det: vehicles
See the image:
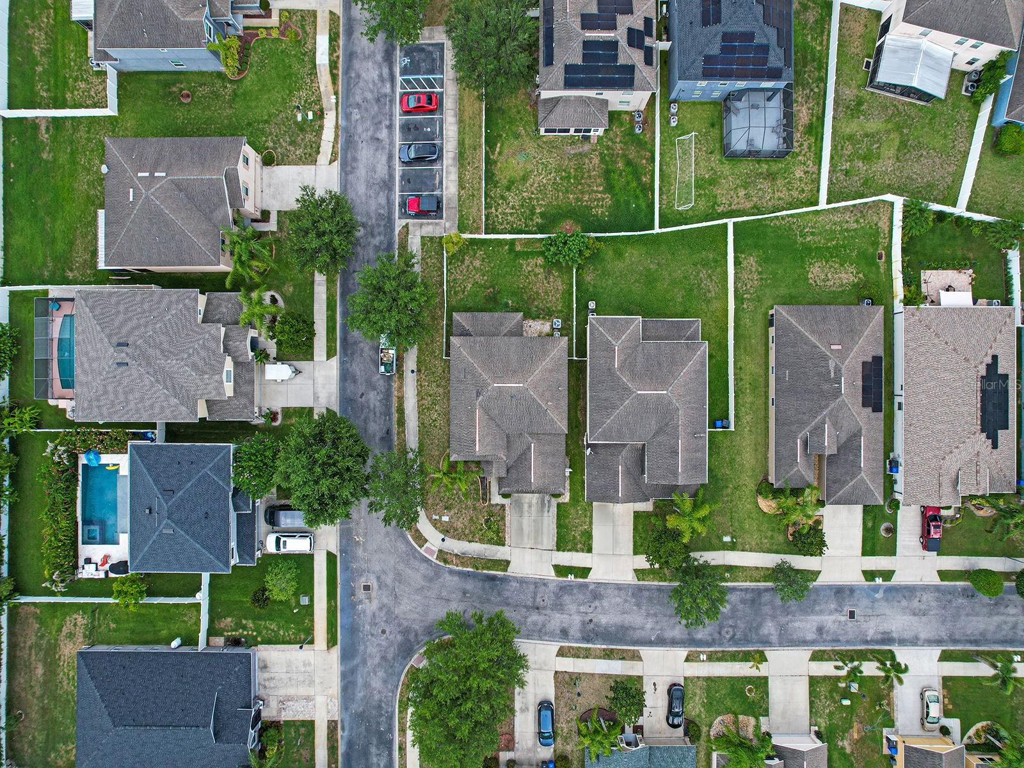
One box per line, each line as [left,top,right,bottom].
[920,508,945,552]
[401,93,440,114]
[407,195,444,215]
[377,334,397,374]
[536,701,555,743]
[268,534,313,554]
[265,507,311,528]
[666,683,686,725]
[399,143,440,164]
[920,686,943,729]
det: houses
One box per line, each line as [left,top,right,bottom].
[93,0,263,69]
[669,0,794,99]
[585,315,709,506]
[128,442,261,573]
[76,646,269,768]
[878,0,1024,66]
[769,305,885,505]
[75,289,261,422]
[894,736,1020,768]
[449,312,568,495]
[538,0,656,143]
[105,136,262,271]
[894,306,1017,509]
[584,728,697,768]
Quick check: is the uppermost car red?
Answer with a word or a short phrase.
Yes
